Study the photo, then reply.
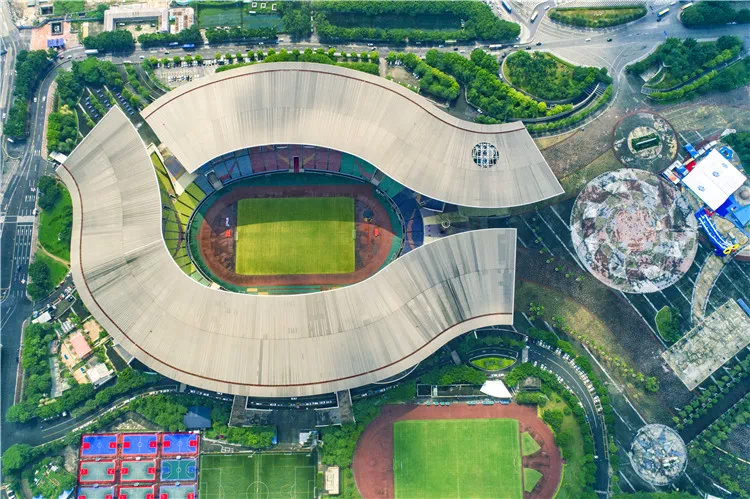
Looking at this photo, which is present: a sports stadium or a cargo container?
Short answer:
sports stadium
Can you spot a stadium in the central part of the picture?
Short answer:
Yes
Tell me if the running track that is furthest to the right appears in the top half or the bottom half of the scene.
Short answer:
bottom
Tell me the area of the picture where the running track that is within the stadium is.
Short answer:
center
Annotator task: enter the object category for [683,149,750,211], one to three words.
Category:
tent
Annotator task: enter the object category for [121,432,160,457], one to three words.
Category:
basketball court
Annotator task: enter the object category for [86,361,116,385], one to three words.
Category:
house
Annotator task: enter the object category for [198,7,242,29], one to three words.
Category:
sports court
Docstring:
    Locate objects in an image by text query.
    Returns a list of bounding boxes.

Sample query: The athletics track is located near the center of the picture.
[198,185,393,287]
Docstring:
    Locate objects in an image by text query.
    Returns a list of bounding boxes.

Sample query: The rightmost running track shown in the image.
[352,403,565,499]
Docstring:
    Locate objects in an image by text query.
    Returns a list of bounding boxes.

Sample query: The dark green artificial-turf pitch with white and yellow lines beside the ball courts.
[199,453,317,499]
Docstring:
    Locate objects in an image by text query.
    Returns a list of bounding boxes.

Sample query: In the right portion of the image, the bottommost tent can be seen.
[480,380,513,399]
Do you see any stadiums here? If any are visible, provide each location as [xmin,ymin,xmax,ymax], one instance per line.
[56,62,565,397]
